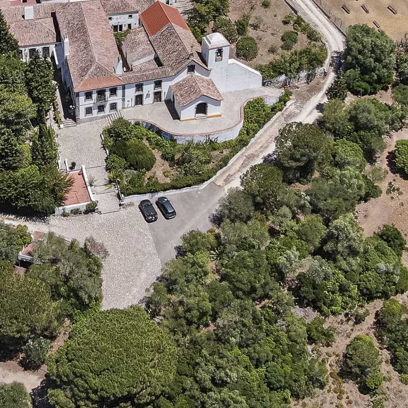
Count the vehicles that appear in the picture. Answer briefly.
2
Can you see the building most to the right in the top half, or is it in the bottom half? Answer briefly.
top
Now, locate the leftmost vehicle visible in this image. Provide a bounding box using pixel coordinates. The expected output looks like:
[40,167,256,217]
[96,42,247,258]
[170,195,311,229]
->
[139,200,158,220]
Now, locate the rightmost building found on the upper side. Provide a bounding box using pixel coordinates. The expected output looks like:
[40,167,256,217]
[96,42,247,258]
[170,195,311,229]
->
[199,31,231,93]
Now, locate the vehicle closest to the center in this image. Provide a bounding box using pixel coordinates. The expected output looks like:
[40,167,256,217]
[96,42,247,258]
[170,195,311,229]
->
[156,195,177,216]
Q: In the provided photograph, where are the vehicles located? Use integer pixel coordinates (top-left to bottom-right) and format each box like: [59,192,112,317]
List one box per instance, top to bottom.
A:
[156,195,177,216]
[139,200,158,220]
